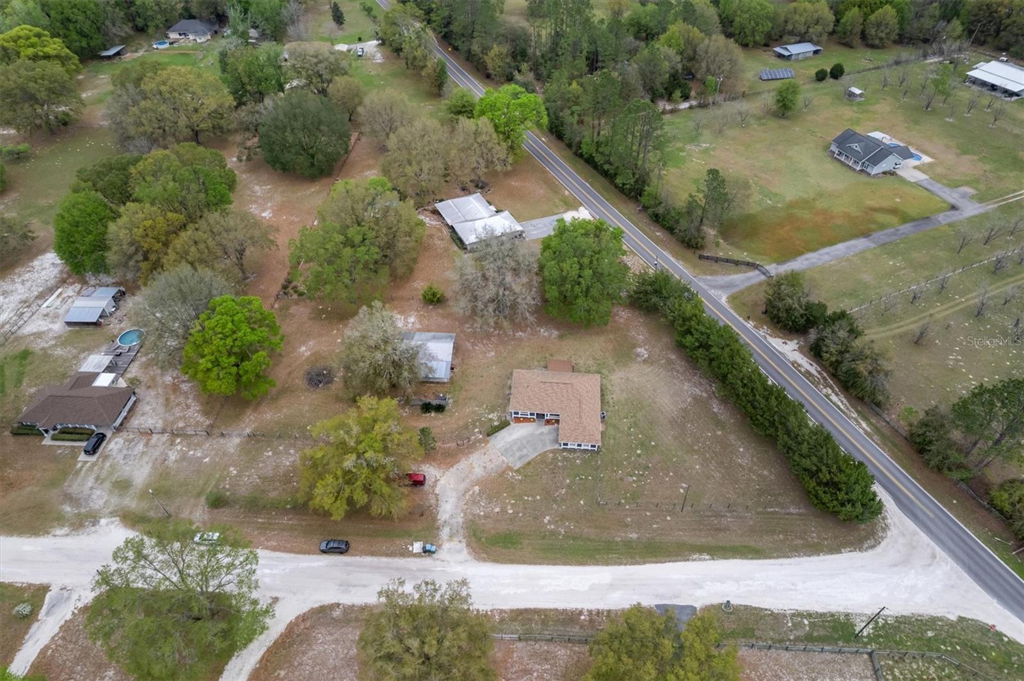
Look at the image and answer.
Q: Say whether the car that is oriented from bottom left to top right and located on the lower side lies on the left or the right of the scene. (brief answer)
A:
left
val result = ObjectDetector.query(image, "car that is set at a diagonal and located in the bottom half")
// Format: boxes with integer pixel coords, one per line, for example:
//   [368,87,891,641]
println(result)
[80,433,107,456]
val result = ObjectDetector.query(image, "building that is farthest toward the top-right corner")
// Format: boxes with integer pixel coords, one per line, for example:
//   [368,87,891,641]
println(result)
[963,58,1024,103]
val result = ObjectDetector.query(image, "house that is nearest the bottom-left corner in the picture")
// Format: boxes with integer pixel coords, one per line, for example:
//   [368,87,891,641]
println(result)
[18,367,140,436]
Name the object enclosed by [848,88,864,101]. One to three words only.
gazebo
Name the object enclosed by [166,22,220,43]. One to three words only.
house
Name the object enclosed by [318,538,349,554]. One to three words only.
car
